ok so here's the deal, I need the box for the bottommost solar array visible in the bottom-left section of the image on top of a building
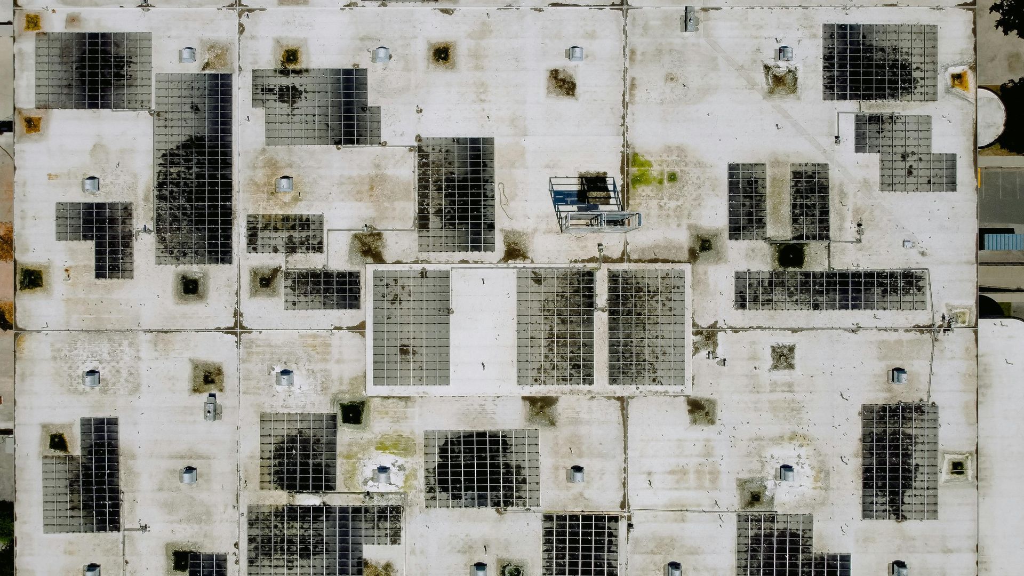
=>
[188,552,228,576]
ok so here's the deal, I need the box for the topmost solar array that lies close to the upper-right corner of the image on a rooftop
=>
[822,22,940,101]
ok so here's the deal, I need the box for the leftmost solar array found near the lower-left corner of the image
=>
[41,417,120,533]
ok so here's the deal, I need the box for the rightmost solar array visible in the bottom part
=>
[862,404,941,520]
